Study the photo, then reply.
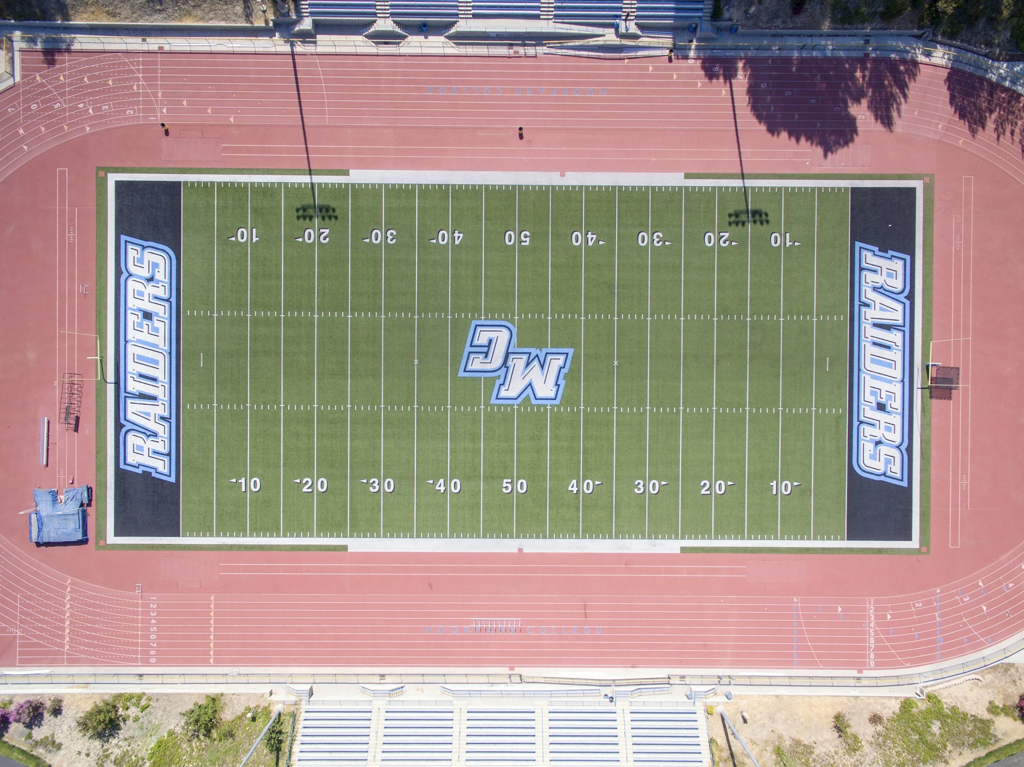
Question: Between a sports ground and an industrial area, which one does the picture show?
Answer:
sports ground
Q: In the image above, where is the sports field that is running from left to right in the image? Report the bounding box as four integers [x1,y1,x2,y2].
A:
[95,167,934,555]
